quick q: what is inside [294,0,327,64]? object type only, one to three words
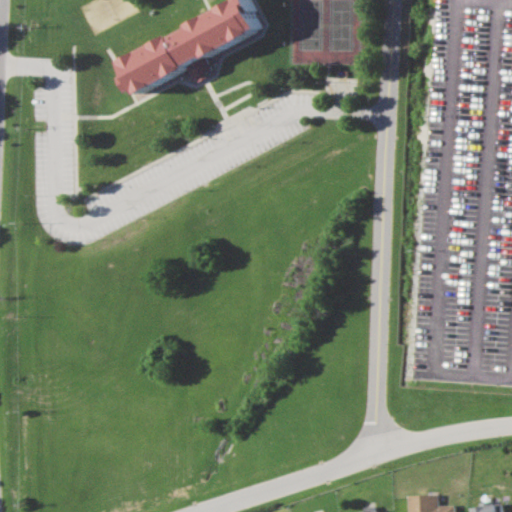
tennis court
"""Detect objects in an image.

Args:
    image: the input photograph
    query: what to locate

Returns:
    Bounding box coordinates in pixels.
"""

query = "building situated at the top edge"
[108,0,264,94]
